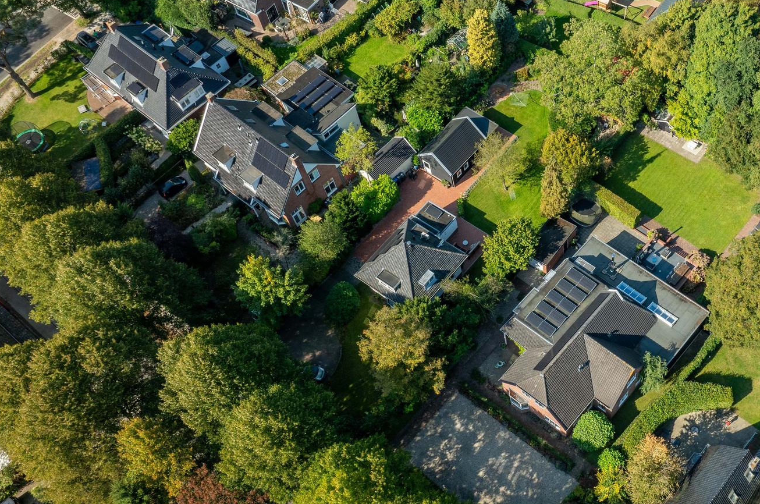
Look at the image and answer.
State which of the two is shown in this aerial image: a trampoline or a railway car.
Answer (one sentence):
Looking from above, you can make out a trampoline.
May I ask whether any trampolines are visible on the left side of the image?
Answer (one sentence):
Yes, a trampoline can be seen on the left side of the image.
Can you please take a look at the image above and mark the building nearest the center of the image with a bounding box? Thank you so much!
[354,198,473,311]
